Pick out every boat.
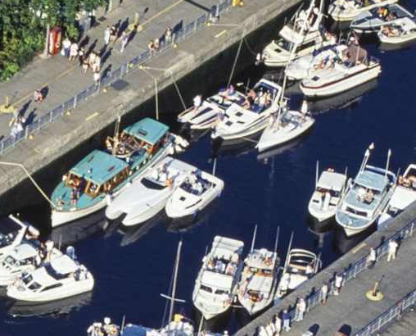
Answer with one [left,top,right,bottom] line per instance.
[310,161,348,227]
[110,159,204,226]
[90,316,120,336]
[377,155,416,230]
[276,237,331,303]
[378,23,416,46]
[0,214,52,255]
[300,29,390,97]
[240,220,292,320]
[341,133,404,243]
[192,232,252,325]
[158,265,200,336]
[6,257,103,305]
[255,42,319,154]
[285,42,353,83]
[52,123,190,225]
[261,0,342,72]
[351,6,416,36]
[125,318,161,336]
[328,0,403,24]
[0,244,55,286]
[167,175,235,223]
[178,90,246,126]
[211,82,293,143]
